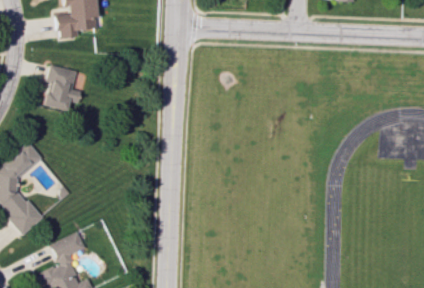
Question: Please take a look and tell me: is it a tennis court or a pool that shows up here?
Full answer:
It is a pool that can be seen here.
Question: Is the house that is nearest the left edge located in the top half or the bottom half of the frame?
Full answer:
You can find the house that is nearest the left edge in the bottom half.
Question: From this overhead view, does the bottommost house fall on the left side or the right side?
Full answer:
The bottommost house appears in the left half of the scene.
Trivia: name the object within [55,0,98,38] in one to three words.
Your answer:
house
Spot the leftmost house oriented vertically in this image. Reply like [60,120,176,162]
[0,142,46,236]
